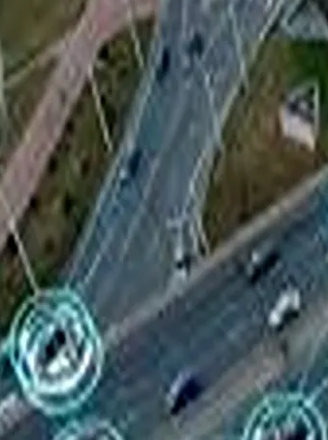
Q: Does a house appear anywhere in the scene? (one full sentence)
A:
No, I find no house anywhere in the image.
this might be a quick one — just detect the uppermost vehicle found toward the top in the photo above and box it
[183,30,207,56]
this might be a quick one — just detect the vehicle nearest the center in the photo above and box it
[124,149,146,178]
